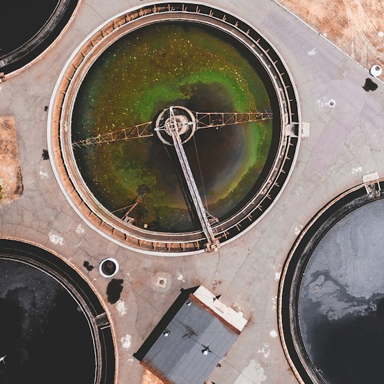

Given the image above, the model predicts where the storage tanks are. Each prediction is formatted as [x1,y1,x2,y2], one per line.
[0,236,122,384]
[0,0,85,83]
[48,1,302,254]
[279,177,384,384]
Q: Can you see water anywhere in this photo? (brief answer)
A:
Yes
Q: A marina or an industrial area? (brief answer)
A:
industrial area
